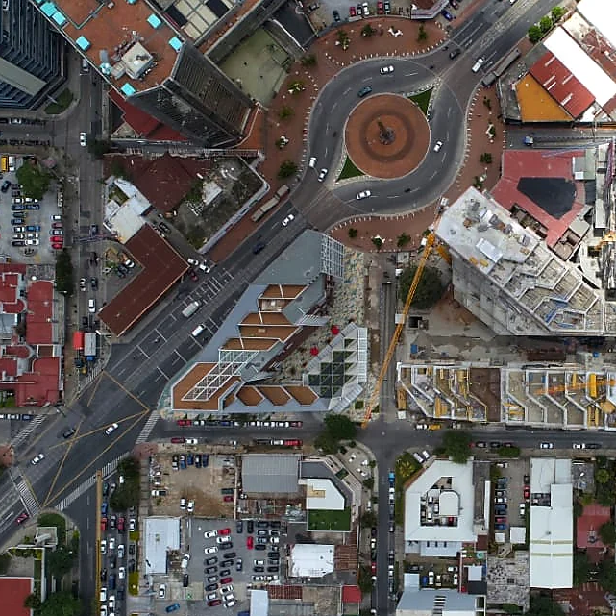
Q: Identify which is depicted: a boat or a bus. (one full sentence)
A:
Looking from above, you can make out a bus.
